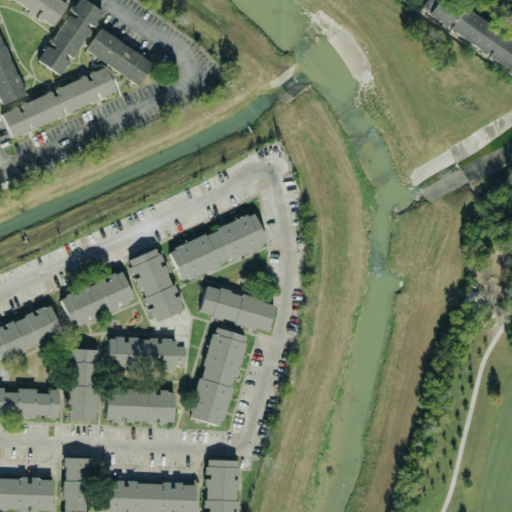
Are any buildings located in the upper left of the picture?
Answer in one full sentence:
Yes, a building appears in the upper left of the picture.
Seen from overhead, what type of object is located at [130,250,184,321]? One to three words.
building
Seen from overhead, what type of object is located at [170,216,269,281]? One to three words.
building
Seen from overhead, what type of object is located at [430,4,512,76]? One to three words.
house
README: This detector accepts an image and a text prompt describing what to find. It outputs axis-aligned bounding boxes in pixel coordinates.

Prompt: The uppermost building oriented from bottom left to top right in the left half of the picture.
[38,0,104,75]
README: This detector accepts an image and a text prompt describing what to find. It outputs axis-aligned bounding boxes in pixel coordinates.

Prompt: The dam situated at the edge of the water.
[270,65,312,103]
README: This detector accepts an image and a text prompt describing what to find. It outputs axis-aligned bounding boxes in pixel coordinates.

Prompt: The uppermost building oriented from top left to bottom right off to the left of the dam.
[88,29,152,84]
